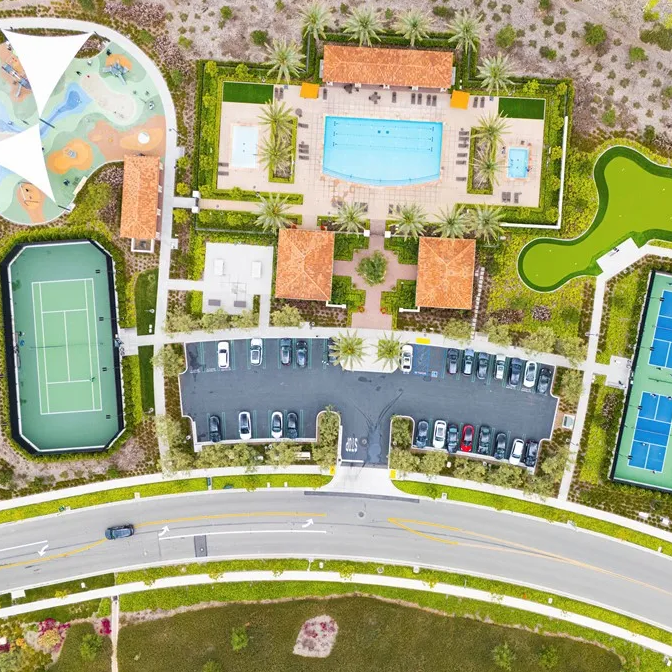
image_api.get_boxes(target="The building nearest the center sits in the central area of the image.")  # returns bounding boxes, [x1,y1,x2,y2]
[275,229,335,301]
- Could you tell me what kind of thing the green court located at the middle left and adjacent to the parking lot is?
tennis court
